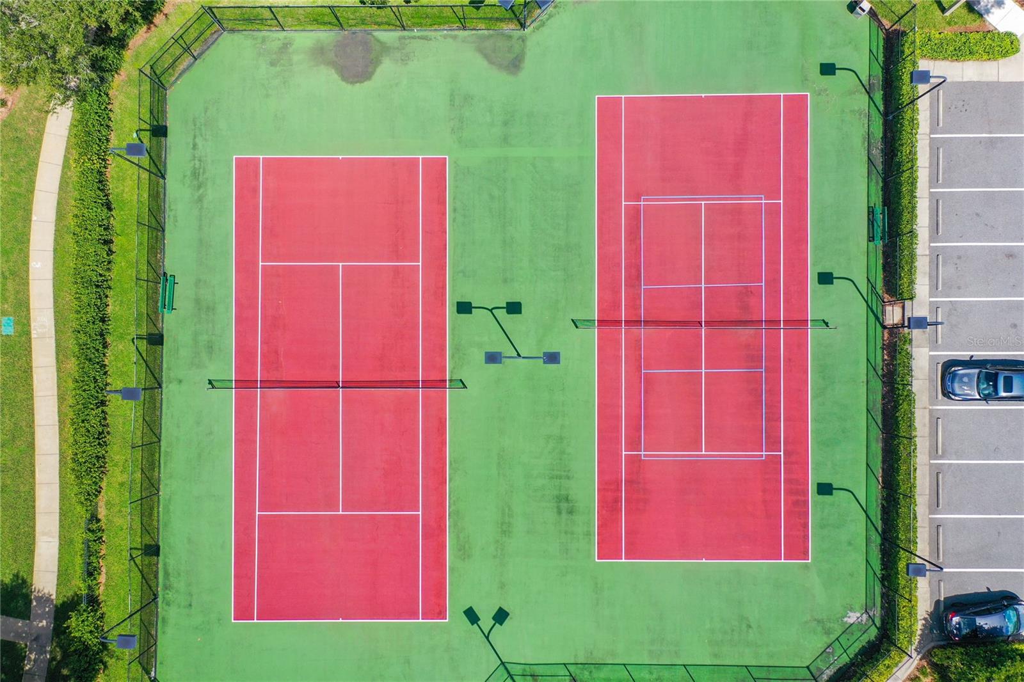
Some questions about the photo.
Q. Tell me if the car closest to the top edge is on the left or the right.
right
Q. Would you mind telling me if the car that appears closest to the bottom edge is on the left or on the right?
right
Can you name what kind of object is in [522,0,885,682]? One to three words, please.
tennis court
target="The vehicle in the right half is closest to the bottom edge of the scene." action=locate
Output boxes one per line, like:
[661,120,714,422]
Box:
[941,590,1024,638]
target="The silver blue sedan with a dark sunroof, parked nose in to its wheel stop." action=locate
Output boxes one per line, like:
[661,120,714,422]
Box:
[943,361,1024,406]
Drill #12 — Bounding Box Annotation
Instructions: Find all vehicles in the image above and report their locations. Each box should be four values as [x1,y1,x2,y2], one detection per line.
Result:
[943,361,1024,406]
[941,590,1024,638]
